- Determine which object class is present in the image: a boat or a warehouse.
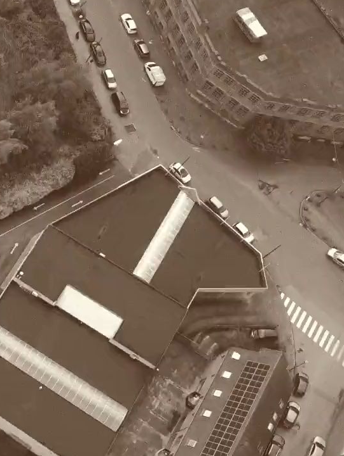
warehouse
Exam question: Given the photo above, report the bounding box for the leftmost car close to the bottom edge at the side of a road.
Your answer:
[263,435,283,456]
